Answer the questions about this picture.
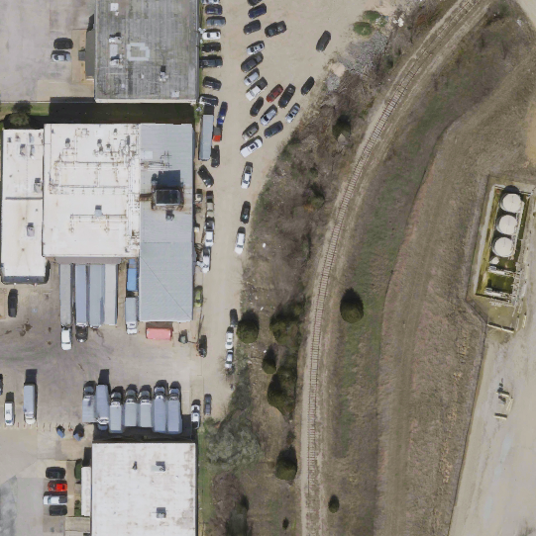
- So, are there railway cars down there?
No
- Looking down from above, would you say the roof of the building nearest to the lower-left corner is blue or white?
white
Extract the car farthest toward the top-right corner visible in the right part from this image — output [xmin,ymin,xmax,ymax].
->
[316,31,332,52]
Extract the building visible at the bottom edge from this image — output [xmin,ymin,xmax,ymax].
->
[82,442,197,536]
